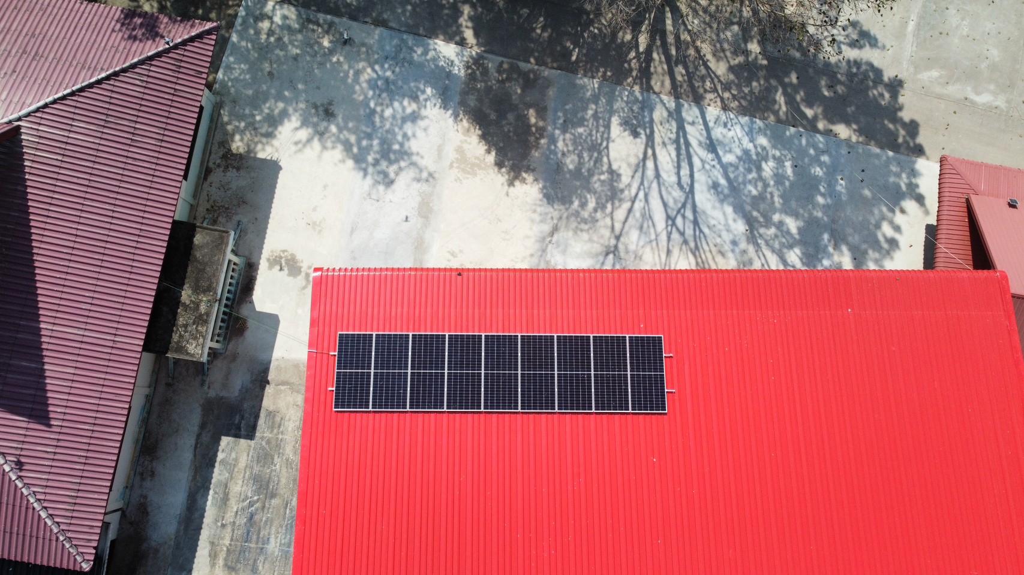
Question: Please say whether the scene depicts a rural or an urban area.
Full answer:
From above, the setting appears urban.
